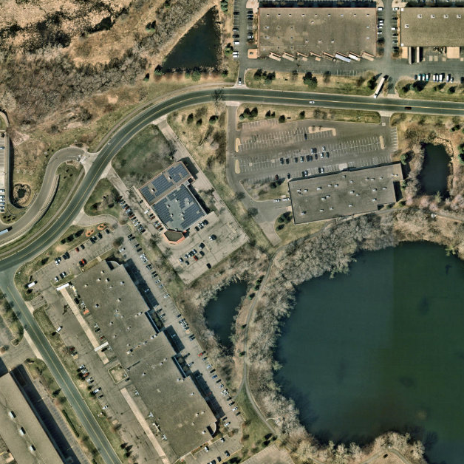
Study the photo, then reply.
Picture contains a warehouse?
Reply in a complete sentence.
Yes, the photo shows a warehouse.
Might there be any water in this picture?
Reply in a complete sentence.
Yes, the picture does contain water.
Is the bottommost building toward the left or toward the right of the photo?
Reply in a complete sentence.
You can find the bottommost building on the left side of the picture.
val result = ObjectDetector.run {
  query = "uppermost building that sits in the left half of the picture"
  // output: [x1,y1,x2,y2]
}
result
[137,162,205,245]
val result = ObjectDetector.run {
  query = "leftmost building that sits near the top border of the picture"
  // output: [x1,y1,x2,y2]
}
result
[259,7,376,58]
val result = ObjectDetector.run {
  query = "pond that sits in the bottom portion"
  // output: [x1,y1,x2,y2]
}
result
[205,280,247,351]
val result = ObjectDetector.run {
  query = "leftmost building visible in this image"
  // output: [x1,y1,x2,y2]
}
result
[0,373,65,464]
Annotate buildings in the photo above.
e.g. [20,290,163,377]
[0,373,65,464]
[55,261,216,457]
[259,7,376,58]
[137,162,205,245]
[289,164,403,224]
[401,7,464,46]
